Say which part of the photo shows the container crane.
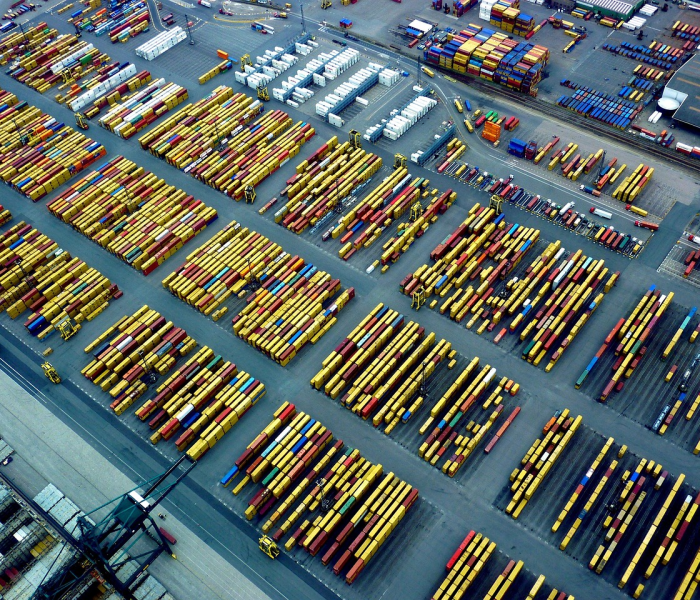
bottom left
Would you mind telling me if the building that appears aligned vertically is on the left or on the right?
right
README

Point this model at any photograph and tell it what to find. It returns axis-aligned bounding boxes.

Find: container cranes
[20,454,198,600]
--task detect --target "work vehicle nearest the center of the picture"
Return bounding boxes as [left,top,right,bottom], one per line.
[410,287,426,310]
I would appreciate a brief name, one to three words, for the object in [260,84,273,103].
vehicle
